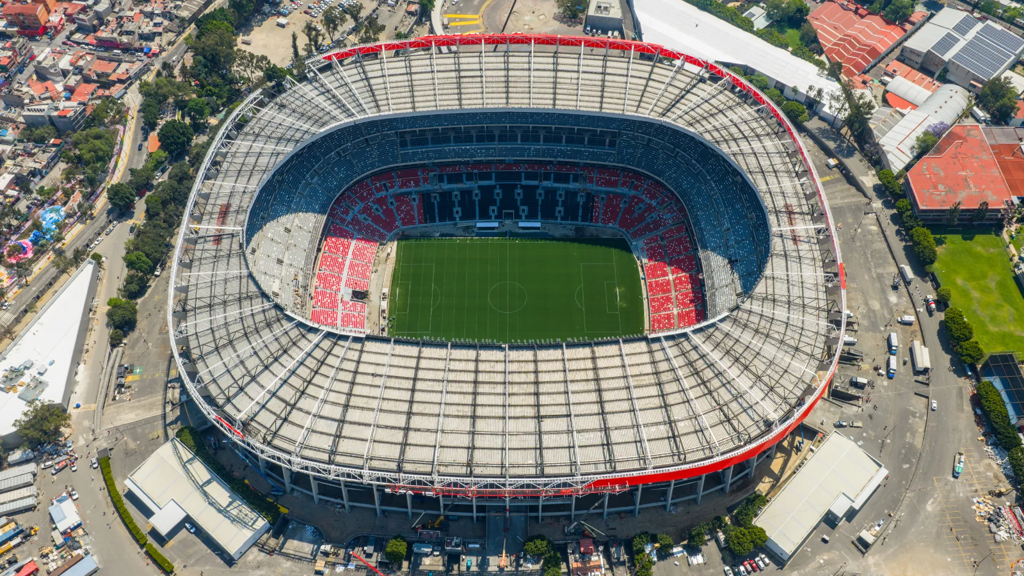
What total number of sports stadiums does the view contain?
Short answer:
1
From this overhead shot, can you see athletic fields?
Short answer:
Yes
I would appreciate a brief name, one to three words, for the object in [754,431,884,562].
building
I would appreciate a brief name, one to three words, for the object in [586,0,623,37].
building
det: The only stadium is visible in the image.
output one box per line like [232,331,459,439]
[167,34,847,528]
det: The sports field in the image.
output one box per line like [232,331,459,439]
[387,237,647,343]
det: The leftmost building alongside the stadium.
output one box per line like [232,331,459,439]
[0,259,103,455]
